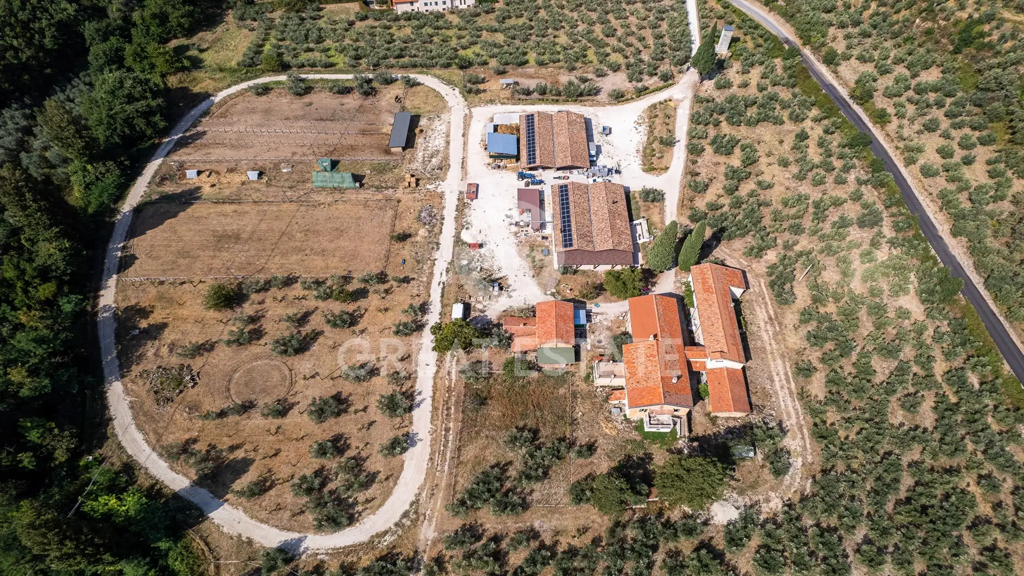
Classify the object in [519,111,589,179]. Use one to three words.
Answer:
barn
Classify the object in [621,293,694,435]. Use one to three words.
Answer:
house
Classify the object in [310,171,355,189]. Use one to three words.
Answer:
greenhouse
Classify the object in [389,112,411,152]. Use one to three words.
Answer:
building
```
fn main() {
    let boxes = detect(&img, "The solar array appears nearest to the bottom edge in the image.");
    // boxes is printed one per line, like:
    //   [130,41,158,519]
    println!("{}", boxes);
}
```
[557,184,571,247]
